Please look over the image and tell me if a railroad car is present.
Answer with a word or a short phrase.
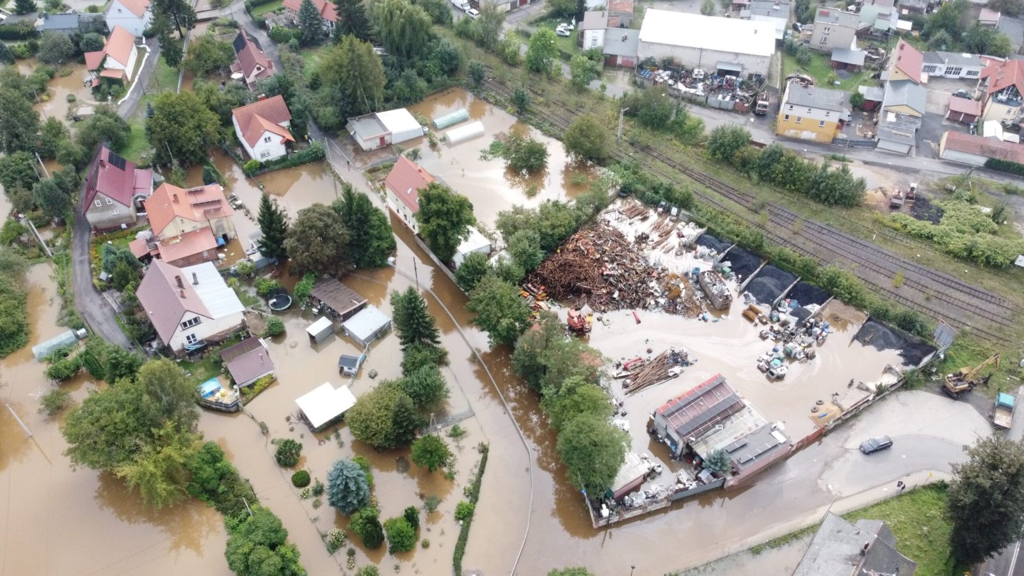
No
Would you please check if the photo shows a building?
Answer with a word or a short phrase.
Yes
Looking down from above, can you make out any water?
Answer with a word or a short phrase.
Yes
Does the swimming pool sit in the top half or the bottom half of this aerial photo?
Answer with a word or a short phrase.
bottom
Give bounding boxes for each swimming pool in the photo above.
[199,379,225,399]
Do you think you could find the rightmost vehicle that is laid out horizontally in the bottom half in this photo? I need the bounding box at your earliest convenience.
[860,435,894,453]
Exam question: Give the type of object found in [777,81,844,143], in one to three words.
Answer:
building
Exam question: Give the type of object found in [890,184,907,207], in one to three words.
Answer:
vehicle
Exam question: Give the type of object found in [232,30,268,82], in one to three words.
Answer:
house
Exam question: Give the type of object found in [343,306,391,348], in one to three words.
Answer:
shed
